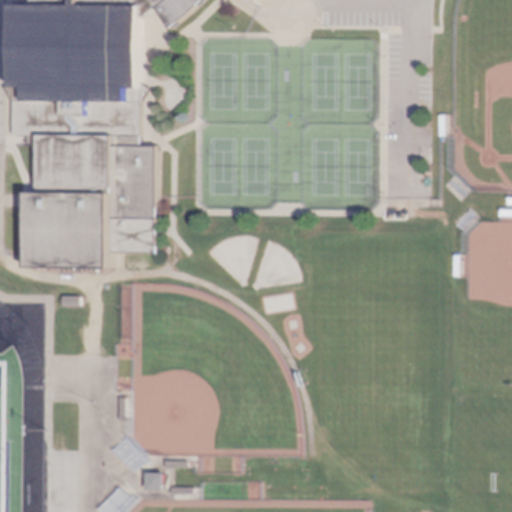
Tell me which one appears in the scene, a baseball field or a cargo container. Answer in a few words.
baseball field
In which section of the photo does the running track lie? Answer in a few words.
bottom left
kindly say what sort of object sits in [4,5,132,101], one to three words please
building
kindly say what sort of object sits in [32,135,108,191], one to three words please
building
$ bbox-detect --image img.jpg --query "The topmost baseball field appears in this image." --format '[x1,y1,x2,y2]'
[448,62,512,190]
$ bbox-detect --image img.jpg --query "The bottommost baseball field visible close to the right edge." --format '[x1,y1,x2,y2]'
[462,221,512,308]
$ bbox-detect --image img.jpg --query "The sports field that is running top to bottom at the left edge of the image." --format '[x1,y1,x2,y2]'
[0,347,22,512]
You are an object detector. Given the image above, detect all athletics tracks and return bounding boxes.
[0,304,48,512]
